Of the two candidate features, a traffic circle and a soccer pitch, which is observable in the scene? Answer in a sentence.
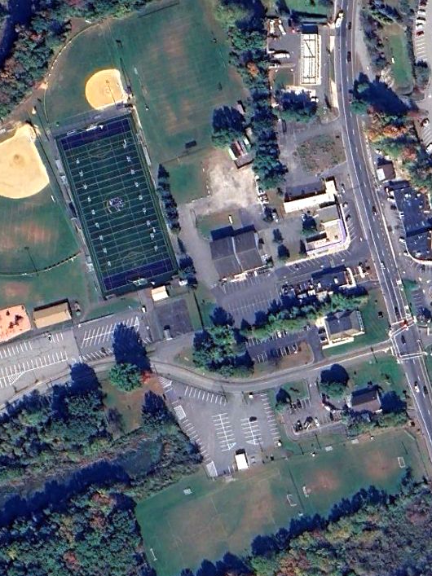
I can see a soccer pitch in this picture.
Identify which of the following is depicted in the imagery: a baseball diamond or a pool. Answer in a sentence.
The one in the frame is a baseball diamond.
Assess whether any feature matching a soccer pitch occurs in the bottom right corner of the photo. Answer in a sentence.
Yes, you'll find a soccer pitch in the bottom right corner of the photo.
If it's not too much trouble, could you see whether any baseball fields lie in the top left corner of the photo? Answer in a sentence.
Yes, a baseball field shows up in the top left corner of the photo.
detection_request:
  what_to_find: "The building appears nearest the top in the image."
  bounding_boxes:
[300,33,321,86]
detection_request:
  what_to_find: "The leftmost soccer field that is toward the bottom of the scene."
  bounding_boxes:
[135,461,300,576]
